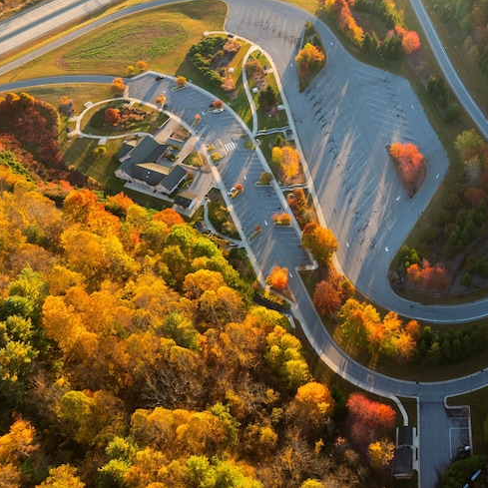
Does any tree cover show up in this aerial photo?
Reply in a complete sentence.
Yes, there's tree cover in this view.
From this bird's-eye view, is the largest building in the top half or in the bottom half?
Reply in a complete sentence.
You can find the largest building in the top half.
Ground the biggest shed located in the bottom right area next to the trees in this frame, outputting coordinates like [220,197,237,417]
[392,438,414,457]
